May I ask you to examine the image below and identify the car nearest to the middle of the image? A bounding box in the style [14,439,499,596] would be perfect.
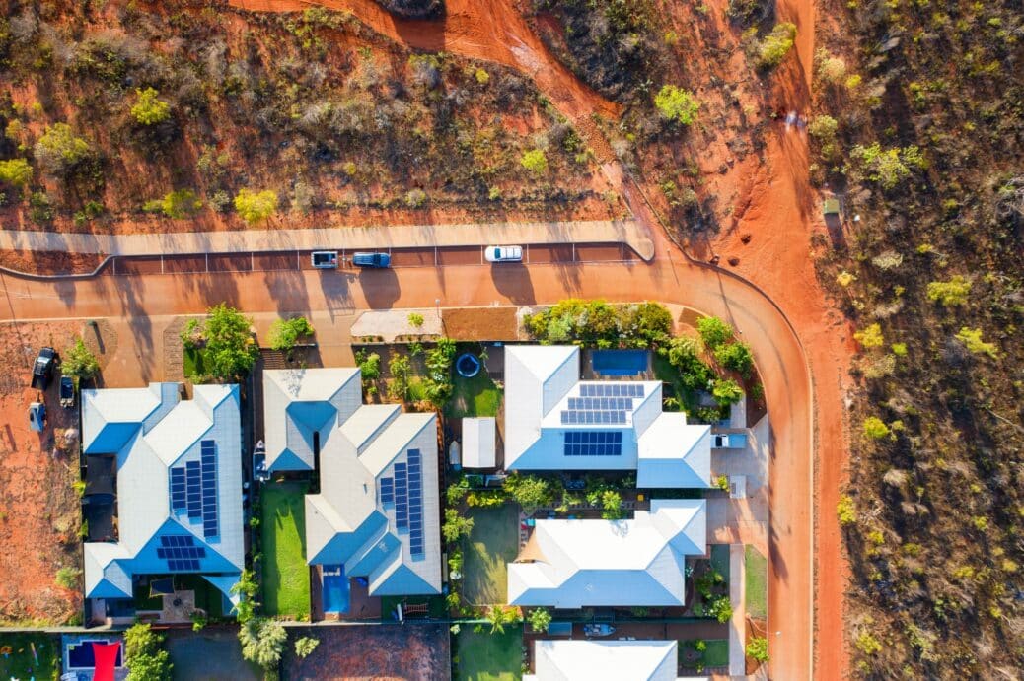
[485,245,522,263]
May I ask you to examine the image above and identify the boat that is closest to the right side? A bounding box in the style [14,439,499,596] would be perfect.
[580,625,616,638]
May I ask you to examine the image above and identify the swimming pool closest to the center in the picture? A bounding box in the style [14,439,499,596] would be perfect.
[589,346,651,377]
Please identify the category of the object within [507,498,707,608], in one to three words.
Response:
house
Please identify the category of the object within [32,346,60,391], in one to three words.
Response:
truck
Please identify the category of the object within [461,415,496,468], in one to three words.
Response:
shed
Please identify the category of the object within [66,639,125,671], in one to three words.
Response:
swimming pool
